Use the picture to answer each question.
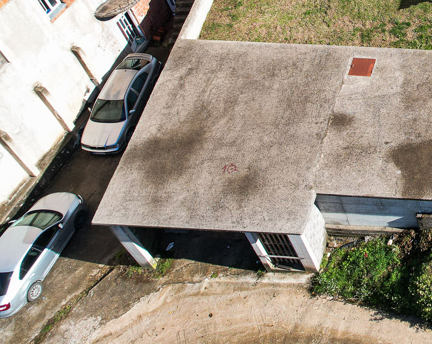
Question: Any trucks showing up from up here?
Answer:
No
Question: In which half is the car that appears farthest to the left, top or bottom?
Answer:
bottom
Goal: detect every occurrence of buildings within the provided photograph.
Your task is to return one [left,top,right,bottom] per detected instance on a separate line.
[0,0,177,233]
[93,39,432,280]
